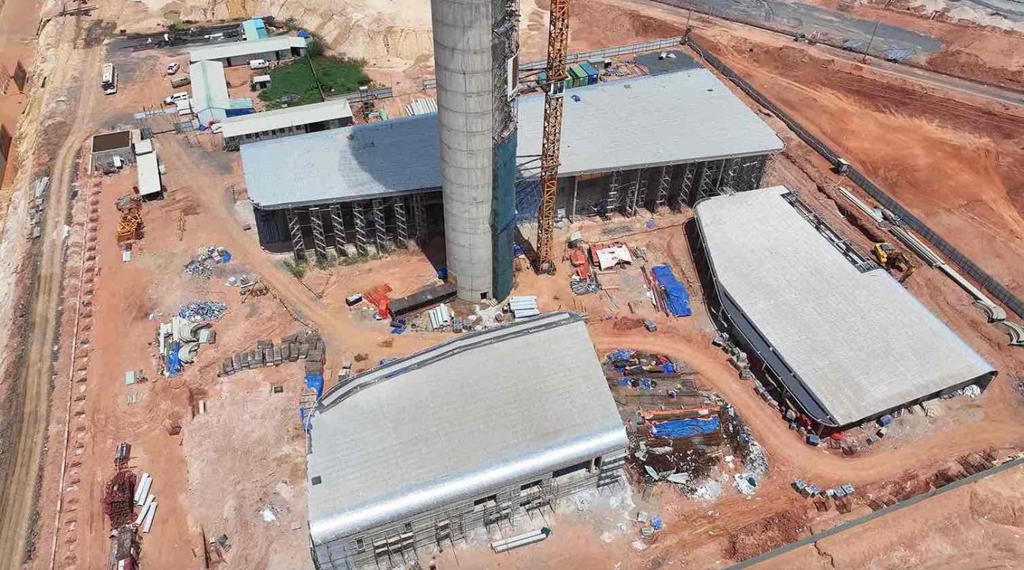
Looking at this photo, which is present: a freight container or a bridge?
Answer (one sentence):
It is a freight container that can be seen here.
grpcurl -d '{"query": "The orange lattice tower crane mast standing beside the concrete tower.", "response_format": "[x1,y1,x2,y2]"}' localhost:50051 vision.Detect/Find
[510,0,569,275]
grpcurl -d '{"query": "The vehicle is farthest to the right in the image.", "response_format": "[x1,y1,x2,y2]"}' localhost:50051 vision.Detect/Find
[877,249,921,289]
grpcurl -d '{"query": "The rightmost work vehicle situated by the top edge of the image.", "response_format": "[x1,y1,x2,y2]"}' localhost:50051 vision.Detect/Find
[796,28,810,40]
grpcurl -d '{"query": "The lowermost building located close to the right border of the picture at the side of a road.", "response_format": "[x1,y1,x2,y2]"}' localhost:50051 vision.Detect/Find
[699,187,1002,446]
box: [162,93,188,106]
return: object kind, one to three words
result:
vehicle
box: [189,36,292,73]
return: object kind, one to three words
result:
building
